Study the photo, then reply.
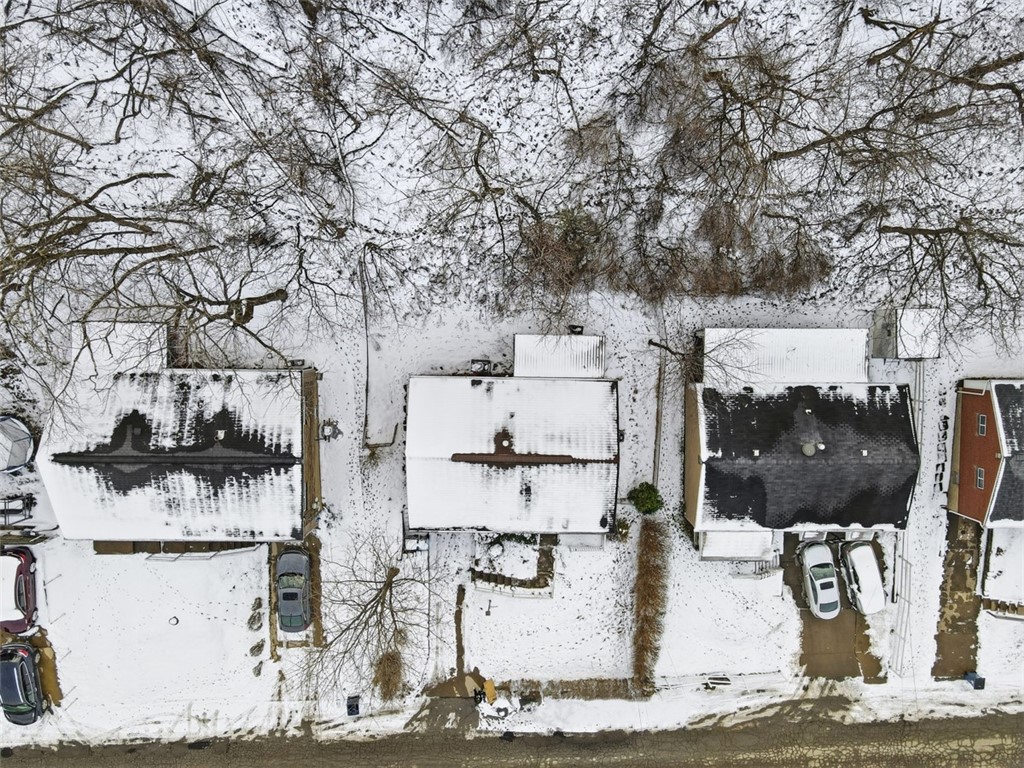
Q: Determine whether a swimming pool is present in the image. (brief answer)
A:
No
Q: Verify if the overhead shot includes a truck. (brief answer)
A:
No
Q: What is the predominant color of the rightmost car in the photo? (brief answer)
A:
white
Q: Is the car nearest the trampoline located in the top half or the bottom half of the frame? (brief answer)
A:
bottom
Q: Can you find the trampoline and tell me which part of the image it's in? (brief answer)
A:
left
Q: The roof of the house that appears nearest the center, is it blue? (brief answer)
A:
No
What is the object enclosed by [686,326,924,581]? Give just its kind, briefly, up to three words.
house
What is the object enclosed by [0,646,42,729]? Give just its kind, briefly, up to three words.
car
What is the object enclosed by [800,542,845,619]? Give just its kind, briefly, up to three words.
car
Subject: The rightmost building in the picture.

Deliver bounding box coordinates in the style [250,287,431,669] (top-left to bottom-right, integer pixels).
[947,379,1024,528]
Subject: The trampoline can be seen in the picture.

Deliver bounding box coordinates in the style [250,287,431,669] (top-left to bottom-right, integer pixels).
[0,410,41,478]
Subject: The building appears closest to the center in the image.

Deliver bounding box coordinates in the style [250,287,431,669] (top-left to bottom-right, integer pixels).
[404,334,622,553]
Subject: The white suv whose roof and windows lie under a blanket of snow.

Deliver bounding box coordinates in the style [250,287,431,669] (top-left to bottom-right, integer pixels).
[840,540,893,617]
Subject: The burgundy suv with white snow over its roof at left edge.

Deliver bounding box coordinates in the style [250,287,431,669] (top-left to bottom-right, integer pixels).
[0,551,36,636]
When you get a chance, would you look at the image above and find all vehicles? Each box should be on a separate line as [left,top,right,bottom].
[0,551,36,636]
[800,542,845,619]
[0,646,42,729]
[840,540,893,617]
[269,551,311,633]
